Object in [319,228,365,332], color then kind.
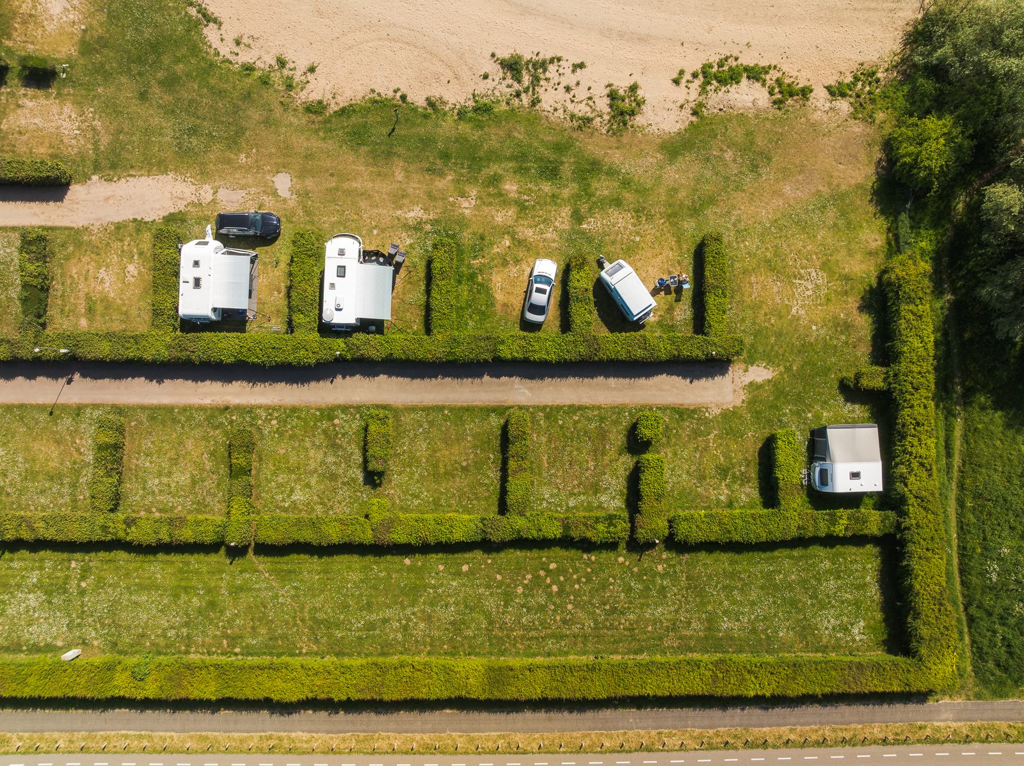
white camper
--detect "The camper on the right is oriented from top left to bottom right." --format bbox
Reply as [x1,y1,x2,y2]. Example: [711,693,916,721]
[598,256,656,325]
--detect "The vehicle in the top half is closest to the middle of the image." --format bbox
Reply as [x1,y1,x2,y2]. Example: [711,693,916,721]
[523,258,558,325]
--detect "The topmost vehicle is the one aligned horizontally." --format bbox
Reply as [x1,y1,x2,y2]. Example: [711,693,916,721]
[215,208,284,241]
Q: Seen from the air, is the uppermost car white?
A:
No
